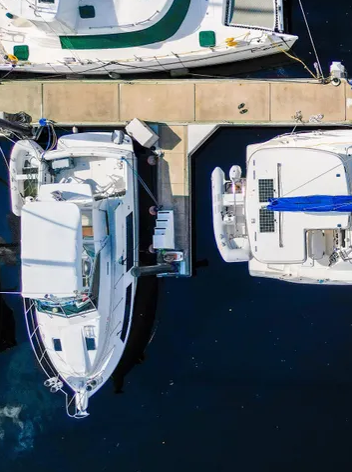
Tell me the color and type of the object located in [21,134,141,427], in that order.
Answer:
white boat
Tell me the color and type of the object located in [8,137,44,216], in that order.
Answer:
white boat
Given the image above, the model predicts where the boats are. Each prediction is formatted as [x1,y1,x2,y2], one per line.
[0,0,299,72]
[21,134,141,427]
[8,137,44,216]
[233,128,352,285]
[214,161,250,263]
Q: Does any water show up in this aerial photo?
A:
Yes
